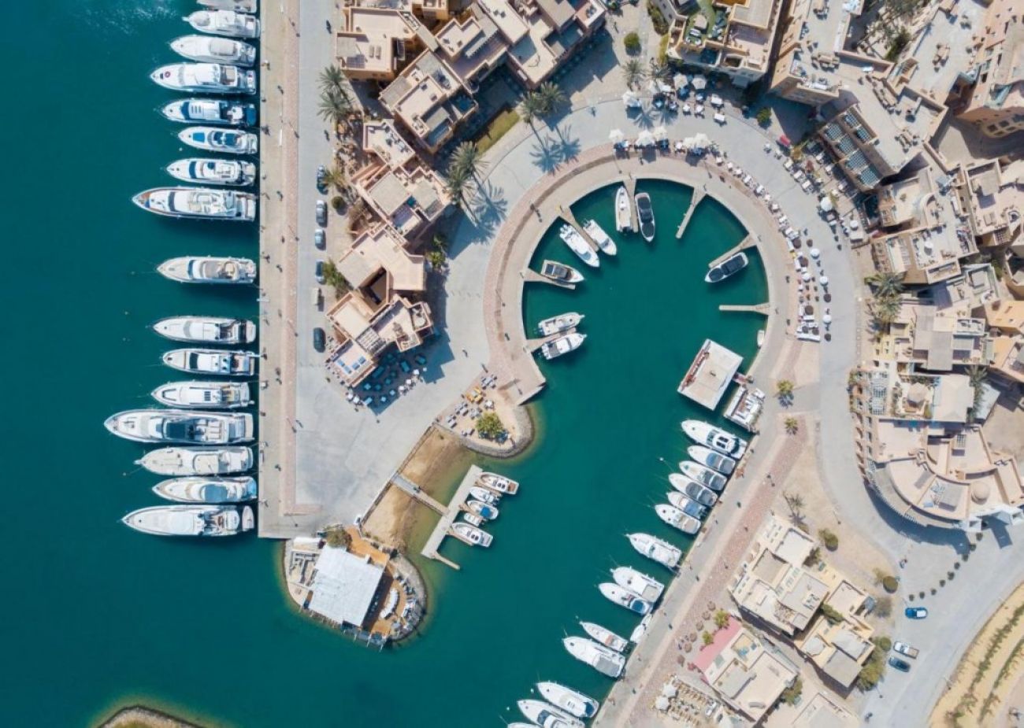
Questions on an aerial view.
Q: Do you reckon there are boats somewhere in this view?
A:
Yes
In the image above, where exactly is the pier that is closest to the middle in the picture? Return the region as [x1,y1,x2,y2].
[528,327,576,351]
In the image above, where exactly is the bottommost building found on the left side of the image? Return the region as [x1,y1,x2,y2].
[294,537,387,626]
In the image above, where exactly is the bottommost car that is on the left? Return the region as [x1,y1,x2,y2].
[312,327,325,352]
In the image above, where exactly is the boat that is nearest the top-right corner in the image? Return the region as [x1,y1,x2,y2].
[705,253,750,281]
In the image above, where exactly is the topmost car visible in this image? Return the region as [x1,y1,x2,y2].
[315,166,327,194]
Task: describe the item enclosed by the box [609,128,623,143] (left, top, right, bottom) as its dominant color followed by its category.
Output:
white umbrella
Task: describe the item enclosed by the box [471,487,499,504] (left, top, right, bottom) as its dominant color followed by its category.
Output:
white boat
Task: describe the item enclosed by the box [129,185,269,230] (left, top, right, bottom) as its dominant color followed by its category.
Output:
white boat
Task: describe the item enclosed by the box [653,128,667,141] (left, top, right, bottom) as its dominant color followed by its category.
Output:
white umbrella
